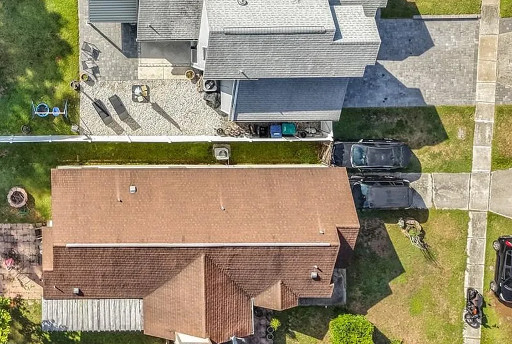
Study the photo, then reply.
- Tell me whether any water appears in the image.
No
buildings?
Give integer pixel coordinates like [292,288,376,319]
[43,163,360,344]
[134,0,388,126]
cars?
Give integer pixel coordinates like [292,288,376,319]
[348,175,415,213]
[328,136,414,177]
[488,233,512,308]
